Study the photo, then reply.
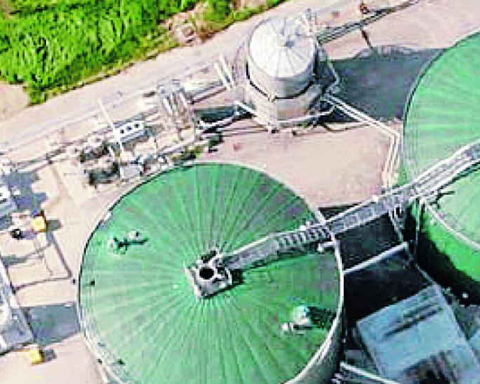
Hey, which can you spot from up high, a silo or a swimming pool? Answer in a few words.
silo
